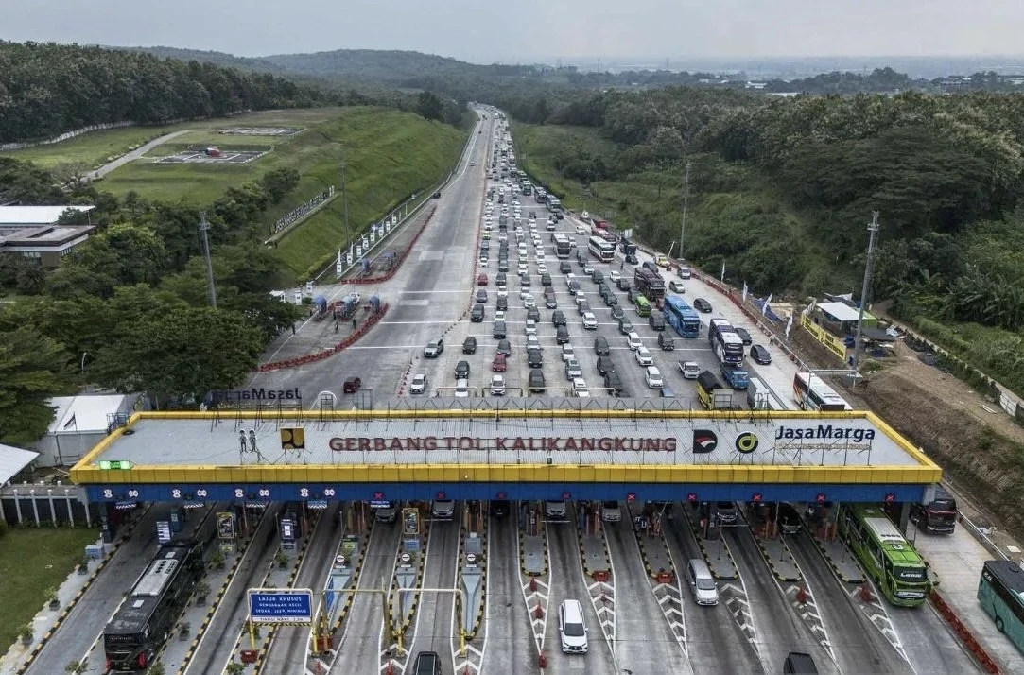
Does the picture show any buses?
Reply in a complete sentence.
Yes, a bus can be made out from above.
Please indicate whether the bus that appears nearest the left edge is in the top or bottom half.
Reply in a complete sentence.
Seen from above, the bus that appears nearest the left edge lies in the bottom half of the view.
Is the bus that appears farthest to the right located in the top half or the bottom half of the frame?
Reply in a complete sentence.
The bottom half of the photo is where the bus that appears farthest to the right is.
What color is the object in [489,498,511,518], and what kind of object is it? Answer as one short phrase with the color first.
black car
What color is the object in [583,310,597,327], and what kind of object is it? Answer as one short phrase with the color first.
white car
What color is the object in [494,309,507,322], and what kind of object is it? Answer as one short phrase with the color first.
white vehicle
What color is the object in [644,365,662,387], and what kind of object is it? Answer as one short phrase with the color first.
white car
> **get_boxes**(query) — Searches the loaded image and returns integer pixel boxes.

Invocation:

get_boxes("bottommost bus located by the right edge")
[979,561,1024,646]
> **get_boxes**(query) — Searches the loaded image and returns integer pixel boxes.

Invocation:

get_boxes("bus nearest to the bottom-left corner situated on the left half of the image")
[89,527,202,664]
